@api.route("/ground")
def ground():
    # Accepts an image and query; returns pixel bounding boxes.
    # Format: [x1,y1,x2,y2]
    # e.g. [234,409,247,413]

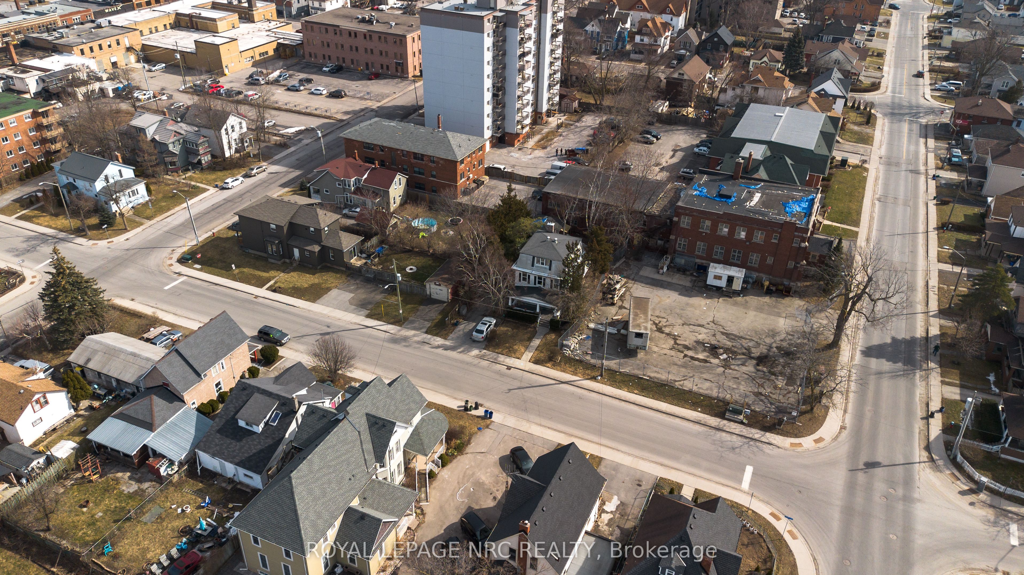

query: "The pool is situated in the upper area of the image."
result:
[412,217,437,235]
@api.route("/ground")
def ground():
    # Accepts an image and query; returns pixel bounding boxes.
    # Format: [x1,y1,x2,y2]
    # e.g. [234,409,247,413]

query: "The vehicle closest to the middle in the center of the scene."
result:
[470,319,497,342]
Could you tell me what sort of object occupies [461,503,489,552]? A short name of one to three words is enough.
vehicle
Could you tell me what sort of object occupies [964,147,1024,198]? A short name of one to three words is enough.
house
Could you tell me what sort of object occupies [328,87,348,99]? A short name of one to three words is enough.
vehicle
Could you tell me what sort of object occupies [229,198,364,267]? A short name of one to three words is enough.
house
